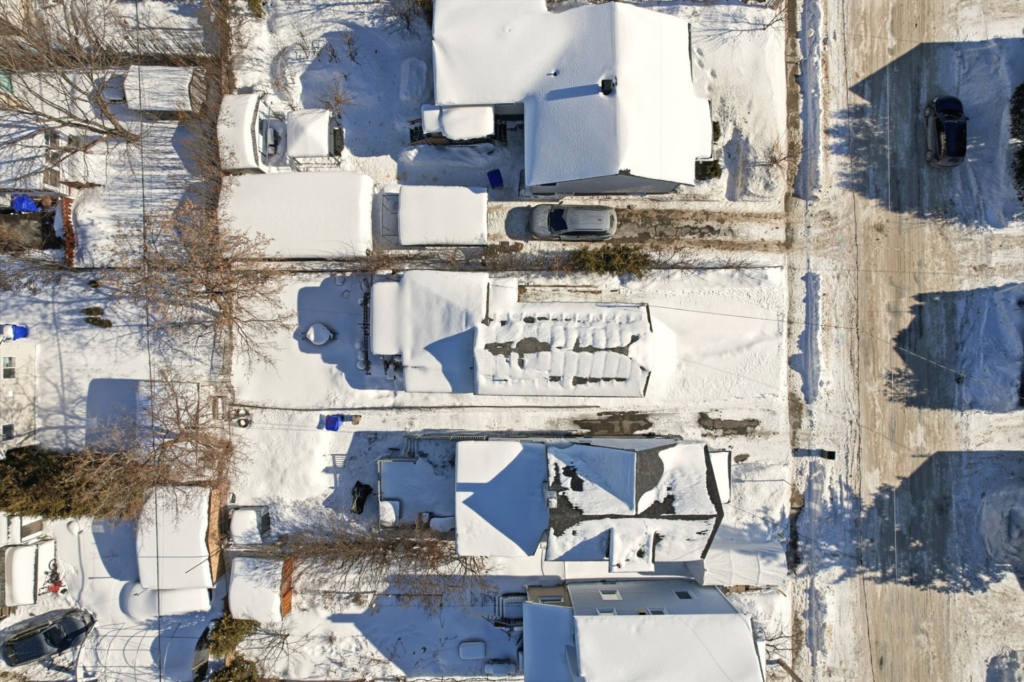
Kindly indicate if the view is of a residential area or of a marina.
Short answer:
residential area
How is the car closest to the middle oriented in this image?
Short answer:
from left to right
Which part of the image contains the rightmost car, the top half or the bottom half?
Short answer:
top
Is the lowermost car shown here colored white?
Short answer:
No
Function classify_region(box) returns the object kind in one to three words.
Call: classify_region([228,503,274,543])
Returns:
shed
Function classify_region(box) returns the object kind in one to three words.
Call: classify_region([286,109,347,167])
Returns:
gazebo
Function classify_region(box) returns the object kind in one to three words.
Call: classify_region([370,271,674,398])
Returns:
house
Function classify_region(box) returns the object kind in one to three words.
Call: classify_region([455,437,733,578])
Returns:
house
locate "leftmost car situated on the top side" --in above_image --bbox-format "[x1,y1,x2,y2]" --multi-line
[529,201,614,242]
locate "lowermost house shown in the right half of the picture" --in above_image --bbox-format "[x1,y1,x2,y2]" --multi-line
[524,580,759,682]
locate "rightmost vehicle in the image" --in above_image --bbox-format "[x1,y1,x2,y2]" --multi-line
[925,97,971,170]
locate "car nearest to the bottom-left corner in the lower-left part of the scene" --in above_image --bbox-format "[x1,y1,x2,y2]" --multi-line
[2,602,90,663]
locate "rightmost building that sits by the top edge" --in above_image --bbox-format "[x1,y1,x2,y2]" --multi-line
[431,0,712,198]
